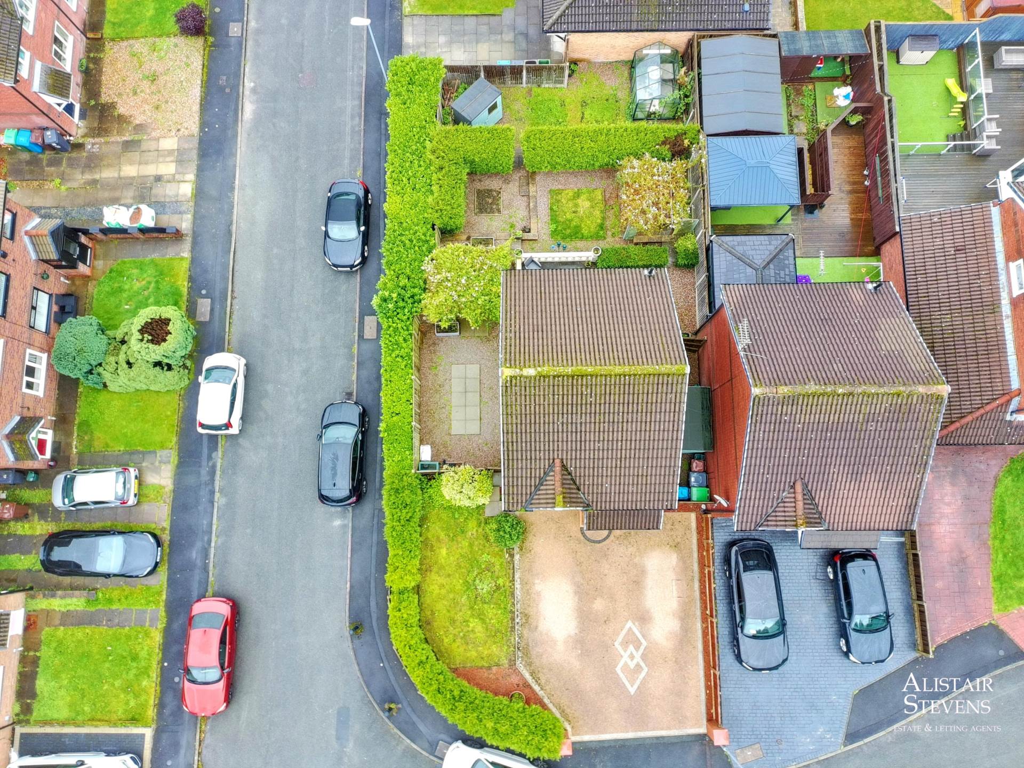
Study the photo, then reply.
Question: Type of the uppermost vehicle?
automobile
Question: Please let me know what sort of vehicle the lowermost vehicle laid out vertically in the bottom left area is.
car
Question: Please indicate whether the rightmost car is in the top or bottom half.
bottom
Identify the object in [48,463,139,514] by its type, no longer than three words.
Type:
car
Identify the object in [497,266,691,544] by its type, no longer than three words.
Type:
house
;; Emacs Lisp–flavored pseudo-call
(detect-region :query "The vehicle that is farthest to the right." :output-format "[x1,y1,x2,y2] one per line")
[831,552,901,666]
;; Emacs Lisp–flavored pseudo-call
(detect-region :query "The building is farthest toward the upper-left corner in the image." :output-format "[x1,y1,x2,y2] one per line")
[0,0,89,141]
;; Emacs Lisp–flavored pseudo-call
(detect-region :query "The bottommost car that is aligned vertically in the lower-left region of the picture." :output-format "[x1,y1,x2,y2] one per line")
[178,597,241,717]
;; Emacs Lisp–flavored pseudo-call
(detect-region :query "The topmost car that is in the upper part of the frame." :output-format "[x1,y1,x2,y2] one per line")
[318,178,370,271]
